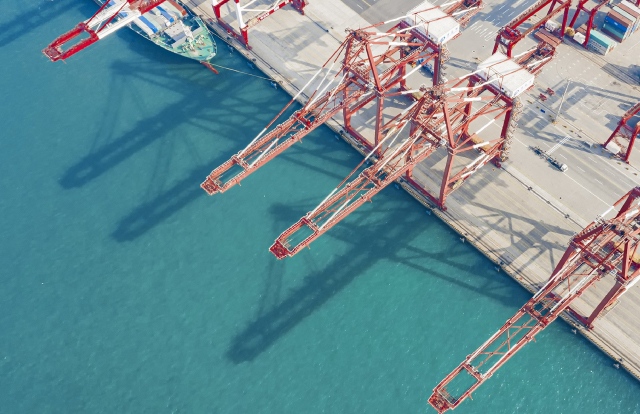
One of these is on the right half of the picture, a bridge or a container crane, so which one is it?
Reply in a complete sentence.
There is a container crane on the right half of the picture.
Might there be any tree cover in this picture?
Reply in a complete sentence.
No, the scene doesn't show any tree cover.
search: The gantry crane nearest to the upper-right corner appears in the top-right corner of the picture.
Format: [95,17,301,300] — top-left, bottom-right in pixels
[563,0,611,48]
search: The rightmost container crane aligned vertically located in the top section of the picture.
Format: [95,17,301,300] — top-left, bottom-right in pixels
[601,92,640,164]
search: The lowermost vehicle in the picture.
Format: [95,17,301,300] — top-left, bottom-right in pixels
[528,141,564,169]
